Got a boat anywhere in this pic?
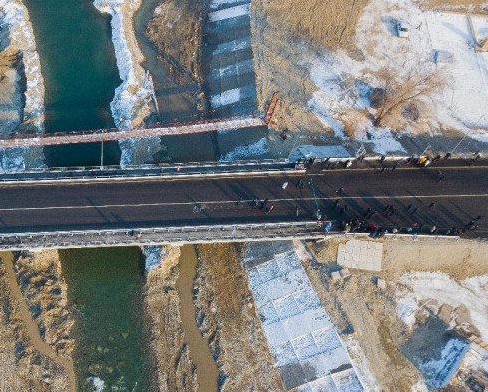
No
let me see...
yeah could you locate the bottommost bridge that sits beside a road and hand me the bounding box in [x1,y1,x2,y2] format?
[0,160,332,252]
